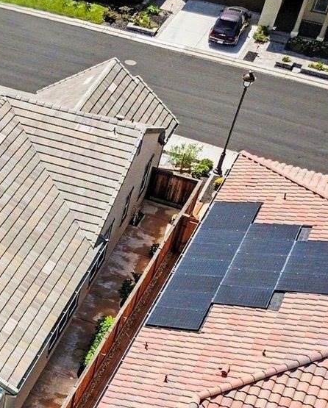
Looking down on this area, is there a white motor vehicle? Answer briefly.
No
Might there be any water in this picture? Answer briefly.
No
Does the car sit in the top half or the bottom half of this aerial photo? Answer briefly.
top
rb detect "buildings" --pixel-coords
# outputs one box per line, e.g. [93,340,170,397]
[0,57,182,408]
[97,149,328,408]
[194,0,328,37]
